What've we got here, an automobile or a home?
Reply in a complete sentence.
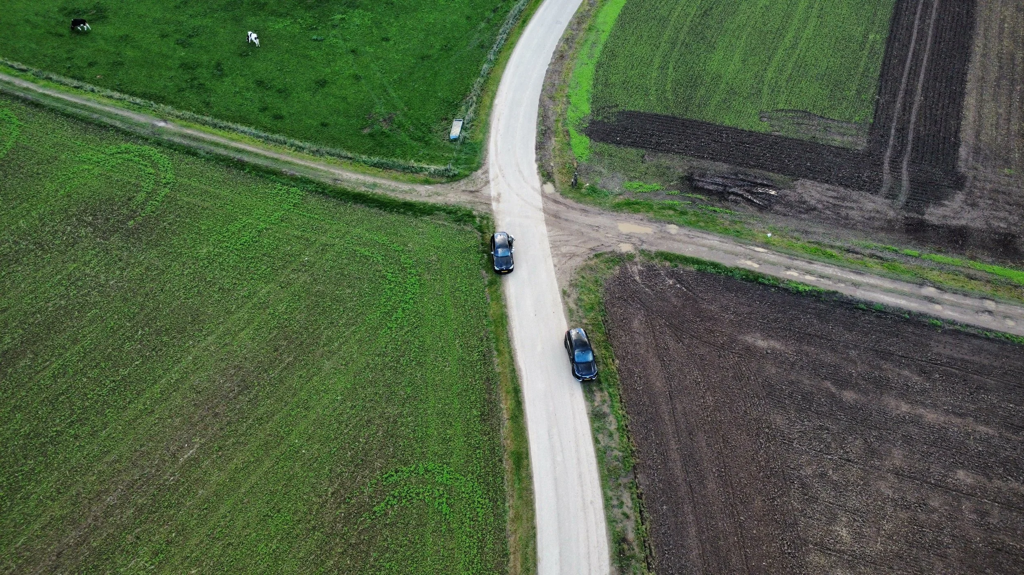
I can see an automobile in this picture.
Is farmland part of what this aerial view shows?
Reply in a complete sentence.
Yes, the picture does contain farmland.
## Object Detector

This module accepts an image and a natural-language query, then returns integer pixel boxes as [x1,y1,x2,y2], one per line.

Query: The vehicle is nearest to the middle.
[490,234,514,273]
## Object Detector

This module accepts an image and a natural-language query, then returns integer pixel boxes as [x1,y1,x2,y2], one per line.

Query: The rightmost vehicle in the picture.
[565,327,598,380]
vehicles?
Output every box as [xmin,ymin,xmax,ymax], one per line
[490,234,514,273]
[565,327,598,380]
